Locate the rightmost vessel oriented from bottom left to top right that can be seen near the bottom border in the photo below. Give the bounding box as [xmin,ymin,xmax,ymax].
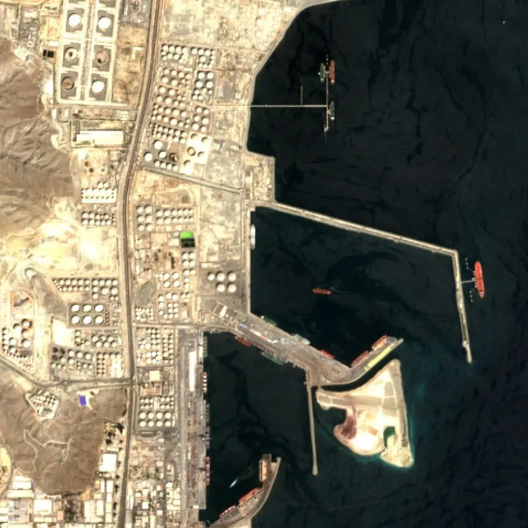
[238,488,260,511]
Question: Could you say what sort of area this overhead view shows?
port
